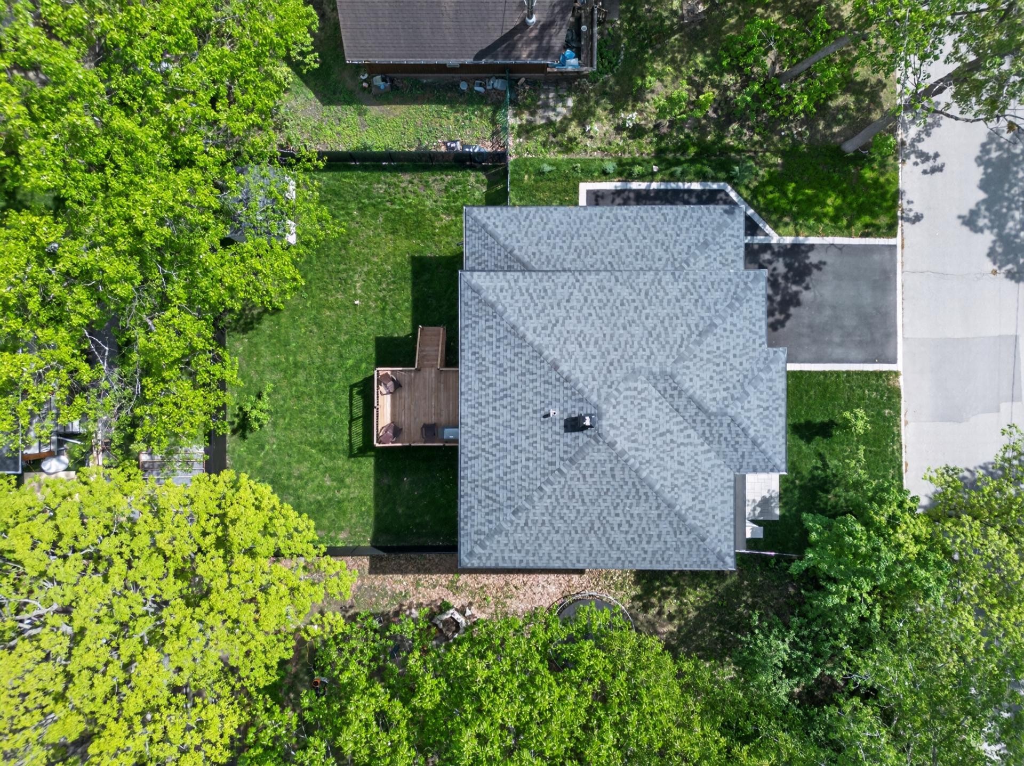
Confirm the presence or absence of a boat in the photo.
No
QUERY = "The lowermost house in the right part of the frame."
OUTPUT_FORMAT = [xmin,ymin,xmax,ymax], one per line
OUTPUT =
[456,203,791,573]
